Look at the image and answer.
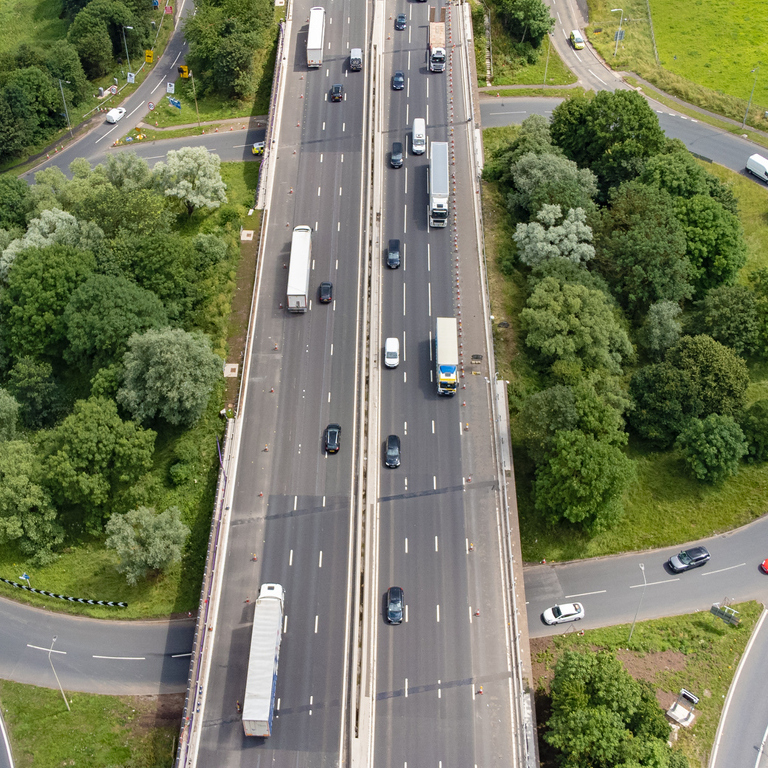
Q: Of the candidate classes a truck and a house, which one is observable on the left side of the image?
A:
truck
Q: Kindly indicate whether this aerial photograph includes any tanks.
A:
No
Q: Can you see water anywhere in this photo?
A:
No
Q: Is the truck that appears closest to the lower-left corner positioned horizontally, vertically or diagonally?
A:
vertically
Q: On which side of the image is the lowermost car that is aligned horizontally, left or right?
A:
right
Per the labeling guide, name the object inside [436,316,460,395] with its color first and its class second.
white truck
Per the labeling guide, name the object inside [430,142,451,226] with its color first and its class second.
white truck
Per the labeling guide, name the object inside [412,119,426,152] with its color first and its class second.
white vehicle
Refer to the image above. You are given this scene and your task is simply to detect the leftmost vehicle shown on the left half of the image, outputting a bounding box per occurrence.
[104,105,129,122]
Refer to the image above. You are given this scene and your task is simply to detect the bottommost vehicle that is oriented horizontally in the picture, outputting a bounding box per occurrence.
[543,601,584,620]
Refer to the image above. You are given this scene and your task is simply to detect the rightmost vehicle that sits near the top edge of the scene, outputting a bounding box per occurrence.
[568,30,586,50]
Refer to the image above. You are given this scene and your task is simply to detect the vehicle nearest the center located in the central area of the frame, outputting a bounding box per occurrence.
[384,337,400,368]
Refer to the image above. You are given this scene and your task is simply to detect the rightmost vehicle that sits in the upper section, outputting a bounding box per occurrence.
[740,157,768,185]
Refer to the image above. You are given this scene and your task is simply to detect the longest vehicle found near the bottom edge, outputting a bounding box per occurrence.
[242,584,284,735]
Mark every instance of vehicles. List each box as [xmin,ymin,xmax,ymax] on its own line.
[307,6,327,66]
[412,119,426,152]
[390,142,404,167]
[287,224,314,313]
[430,4,448,71]
[386,238,402,268]
[331,86,344,103]
[385,587,405,626]
[568,30,586,50]
[392,74,405,91]
[436,316,460,395]
[319,281,334,305]
[384,337,400,368]
[384,436,403,469]
[325,425,343,454]
[395,15,406,31]
[740,157,768,185]
[242,584,284,735]
[543,601,584,620]
[104,105,129,122]
[669,544,711,571]
[430,142,451,226]
[760,558,768,572]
